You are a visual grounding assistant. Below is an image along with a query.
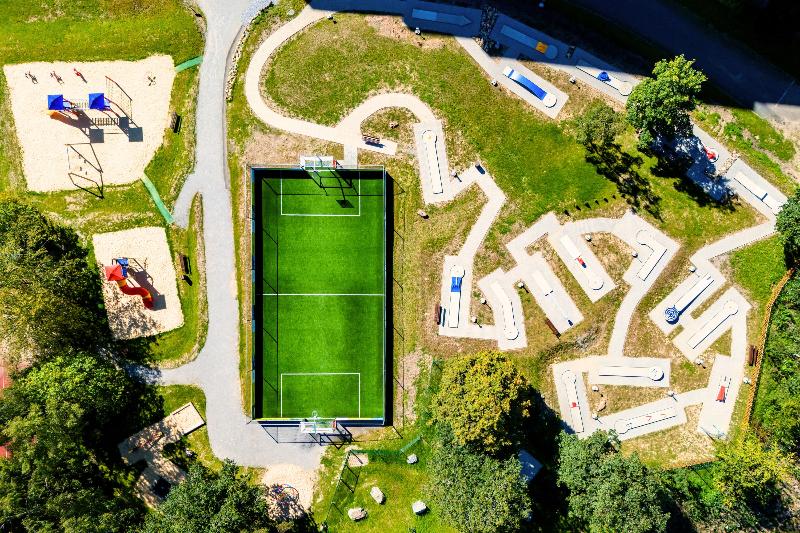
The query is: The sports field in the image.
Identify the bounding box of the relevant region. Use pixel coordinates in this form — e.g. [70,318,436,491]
[246,163,387,427]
